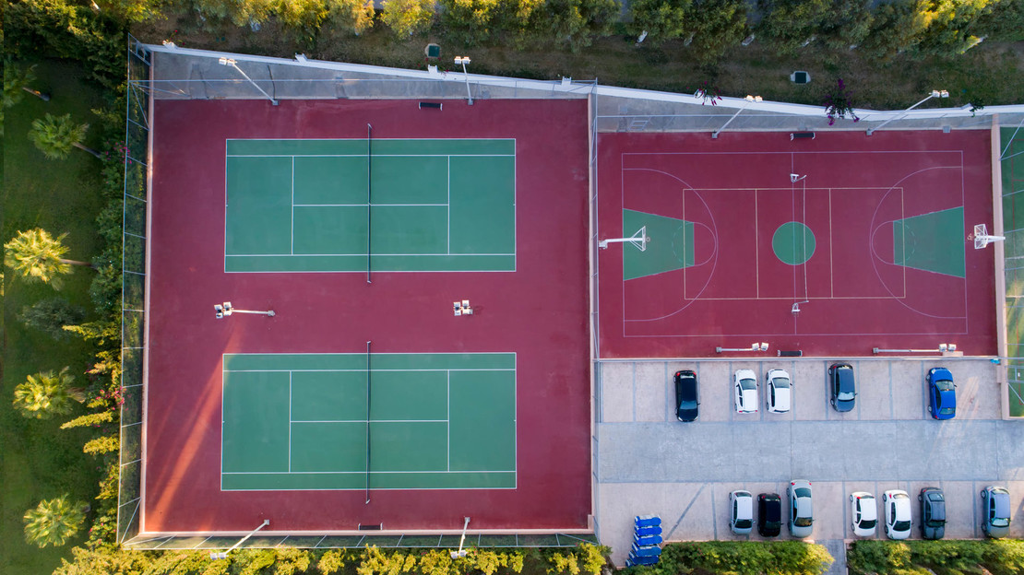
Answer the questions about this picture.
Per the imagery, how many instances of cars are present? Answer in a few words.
12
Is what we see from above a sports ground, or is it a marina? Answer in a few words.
sports ground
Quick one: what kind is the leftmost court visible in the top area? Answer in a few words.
tennis court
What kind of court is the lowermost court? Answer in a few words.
tennis court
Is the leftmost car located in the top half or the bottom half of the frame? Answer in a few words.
bottom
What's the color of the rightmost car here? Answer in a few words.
blue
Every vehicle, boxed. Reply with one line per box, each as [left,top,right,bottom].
[756,492,785,537]
[733,369,761,414]
[674,371,701,422]
[765,368,793,414]
[786,479,816,538]
[979,485,1013,539]
[728,489,756,537]
[916,486,949,540]
[849,491,880,537]
[827,363,858,412]
[925,367,957,421]
[881,489,914,540]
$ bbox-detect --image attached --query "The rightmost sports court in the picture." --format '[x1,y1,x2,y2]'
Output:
[1002,127,1024,418]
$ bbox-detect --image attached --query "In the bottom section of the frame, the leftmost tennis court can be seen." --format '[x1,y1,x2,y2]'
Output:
[221,352,517,491]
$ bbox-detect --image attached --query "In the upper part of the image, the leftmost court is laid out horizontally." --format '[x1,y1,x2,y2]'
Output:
[225,139,516,272]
